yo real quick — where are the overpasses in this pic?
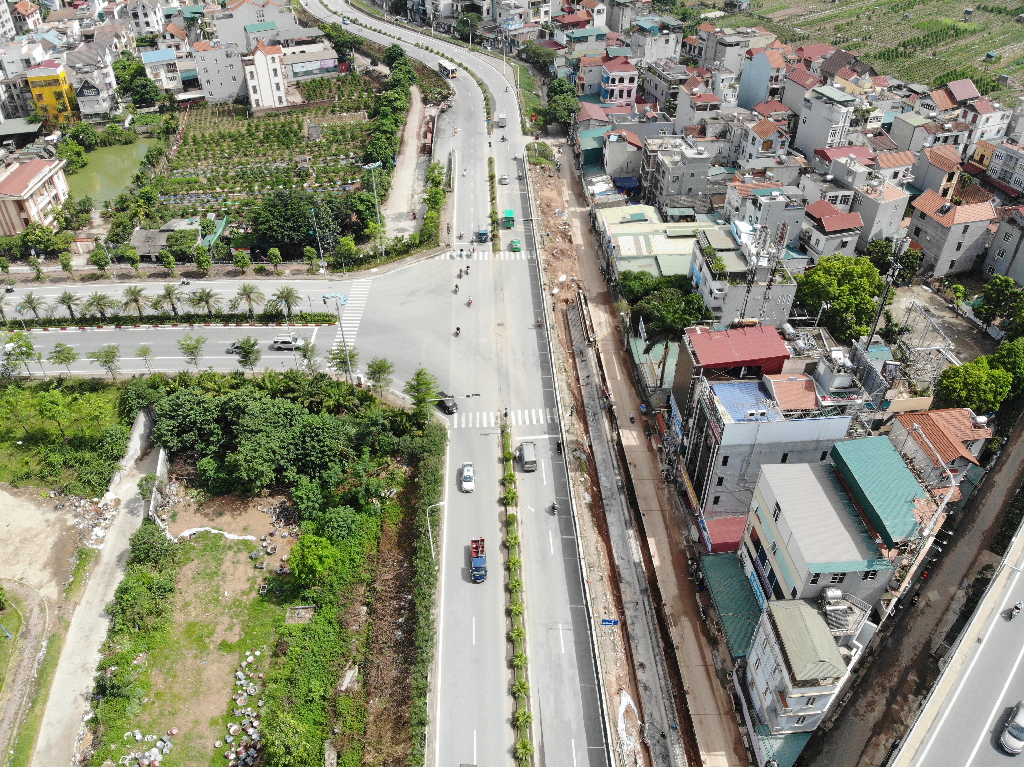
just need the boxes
[890,523,1024,767]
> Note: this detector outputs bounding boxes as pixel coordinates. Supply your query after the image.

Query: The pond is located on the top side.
[71,135,162,216]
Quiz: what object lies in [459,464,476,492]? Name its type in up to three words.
car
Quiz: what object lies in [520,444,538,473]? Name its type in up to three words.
car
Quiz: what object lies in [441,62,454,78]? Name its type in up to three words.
vehicle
